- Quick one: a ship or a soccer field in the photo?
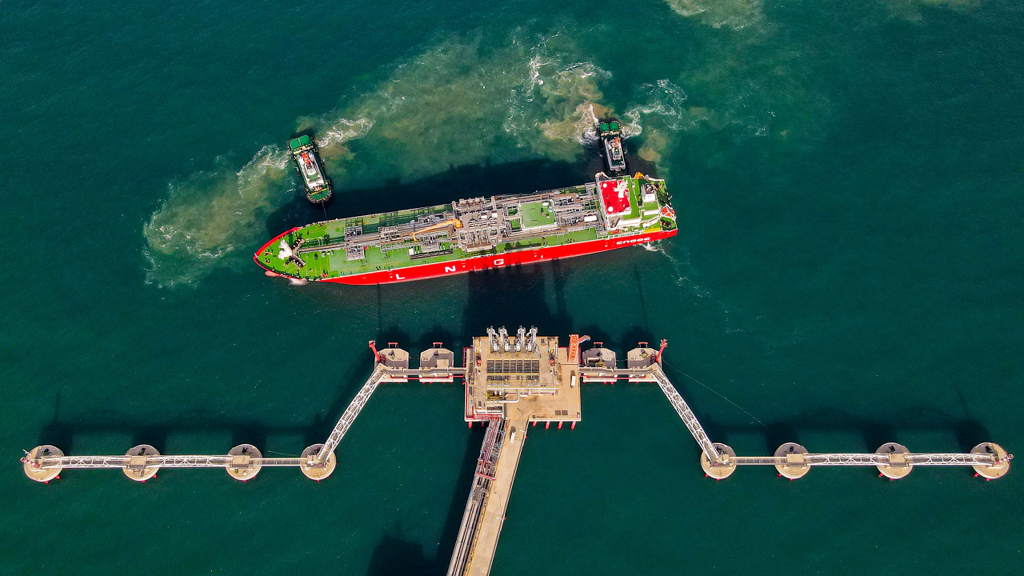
ship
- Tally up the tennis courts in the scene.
0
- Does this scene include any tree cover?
No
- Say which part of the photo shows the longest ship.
center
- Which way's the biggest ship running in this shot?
from side to side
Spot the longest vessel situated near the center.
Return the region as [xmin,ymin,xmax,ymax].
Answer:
[252,170,677,288]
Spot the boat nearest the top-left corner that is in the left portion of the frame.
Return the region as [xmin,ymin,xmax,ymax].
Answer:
[288,132,332,202]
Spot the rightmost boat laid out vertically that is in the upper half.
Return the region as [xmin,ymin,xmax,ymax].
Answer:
[597,121,631,180]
